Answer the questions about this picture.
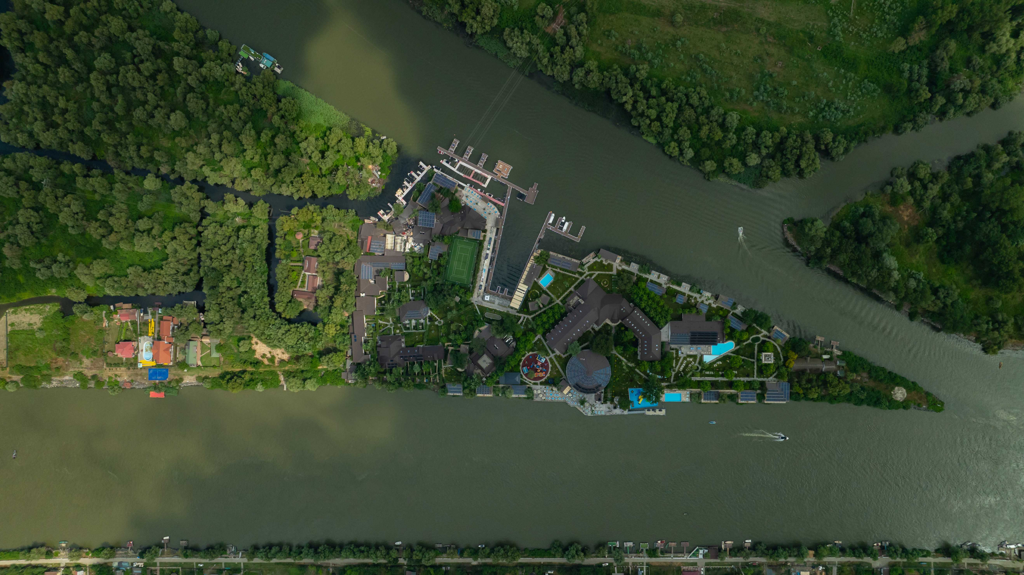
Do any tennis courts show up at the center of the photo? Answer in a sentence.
Yes, looking at the center of the photo, one can make out a tennis court.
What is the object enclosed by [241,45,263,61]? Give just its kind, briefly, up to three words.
ship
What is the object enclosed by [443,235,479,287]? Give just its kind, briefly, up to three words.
tennis court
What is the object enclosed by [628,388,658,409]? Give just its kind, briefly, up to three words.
swimming pool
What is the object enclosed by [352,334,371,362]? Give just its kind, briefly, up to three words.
house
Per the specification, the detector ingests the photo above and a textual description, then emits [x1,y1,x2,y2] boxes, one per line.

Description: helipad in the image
[893,387,908,402]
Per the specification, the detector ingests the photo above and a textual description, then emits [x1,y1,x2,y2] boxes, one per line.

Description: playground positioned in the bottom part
[522,353,550,381]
